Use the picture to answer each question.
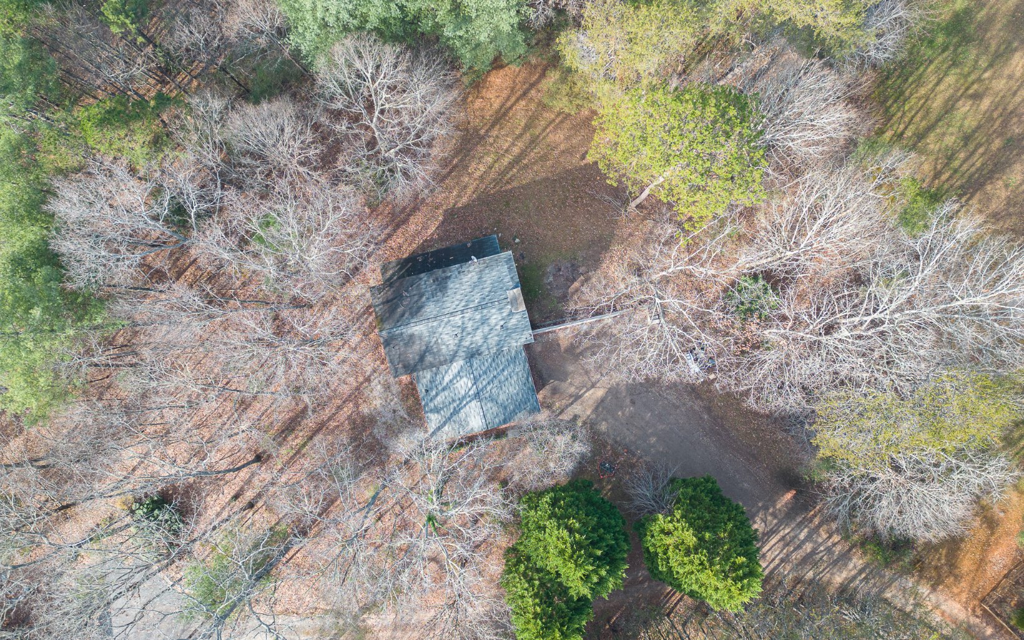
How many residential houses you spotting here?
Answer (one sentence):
My tally gives 1 residential house in this photo.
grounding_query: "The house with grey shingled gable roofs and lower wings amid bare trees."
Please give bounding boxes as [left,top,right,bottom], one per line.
[370,235,542,439]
